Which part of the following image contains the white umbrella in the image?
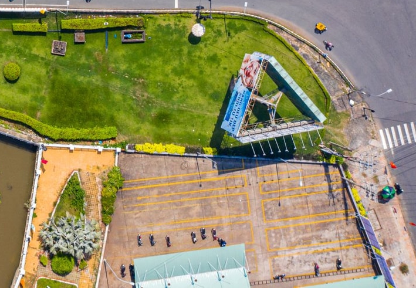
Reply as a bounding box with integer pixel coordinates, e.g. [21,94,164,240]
[190,23,206,36]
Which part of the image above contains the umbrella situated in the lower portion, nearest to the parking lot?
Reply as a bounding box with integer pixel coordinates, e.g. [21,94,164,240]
[381,186,395,199]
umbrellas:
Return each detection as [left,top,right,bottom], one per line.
[190,23,206,36]
[381,186,395,199]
